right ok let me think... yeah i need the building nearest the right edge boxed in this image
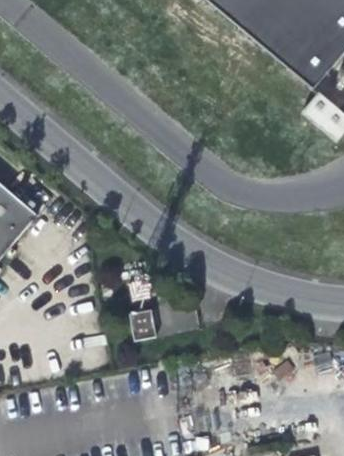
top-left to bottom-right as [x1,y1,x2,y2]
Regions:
[302,92,344,144]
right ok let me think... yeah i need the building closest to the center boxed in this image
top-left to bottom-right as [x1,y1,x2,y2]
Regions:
[130,308,158,344]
